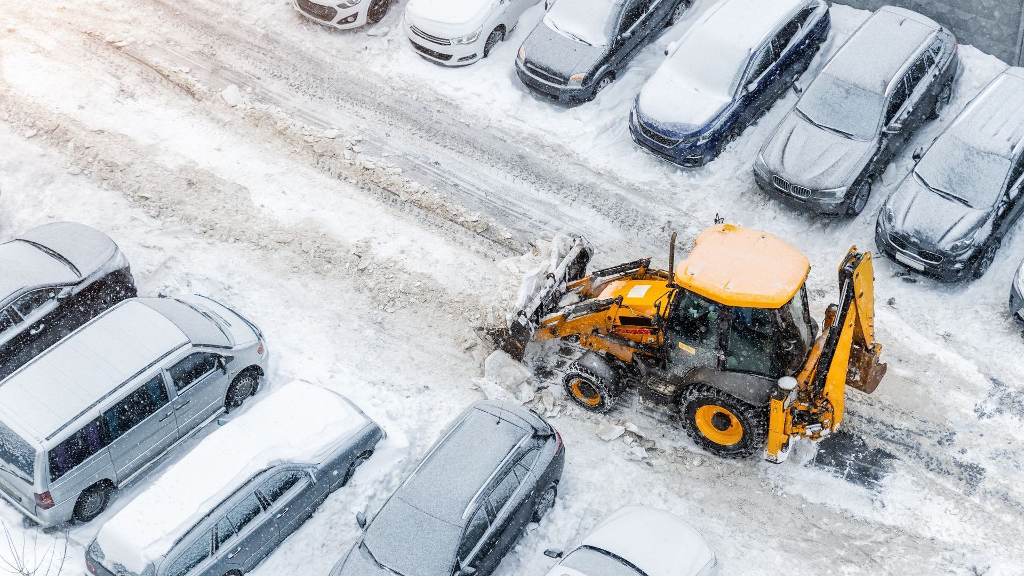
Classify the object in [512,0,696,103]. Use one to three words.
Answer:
car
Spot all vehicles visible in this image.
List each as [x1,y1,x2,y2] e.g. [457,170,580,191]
[631,0,835,167]
[755,6,963,218]
[88,375,385,576]
[327,401,559,576]
[512,0,696,103]
[874,69,1024,280]
[0,294,270,531]
[397,0,538,59]
[0,221,140,380]
[474,198,891,486]
[294,0,399,32]
[1001,241,1024,322]
[534,506,720,576]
